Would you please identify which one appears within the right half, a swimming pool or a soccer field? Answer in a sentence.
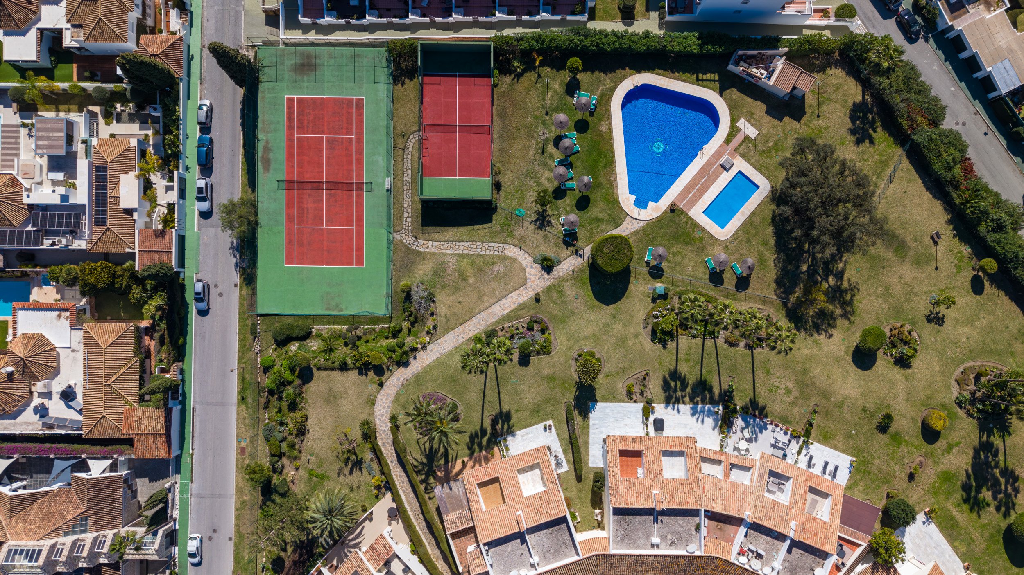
It is a swimming pool that can be seen within the right half.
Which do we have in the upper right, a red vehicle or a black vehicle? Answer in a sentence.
Looking in the upper right, you will find a black vehicle.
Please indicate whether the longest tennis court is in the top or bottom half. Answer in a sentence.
The top half of the photo is where the longest tennis court is.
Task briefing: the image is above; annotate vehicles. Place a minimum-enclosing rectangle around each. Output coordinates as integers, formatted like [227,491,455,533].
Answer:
[196,136,214,167]
[196,100,213,128]
[187,534,204,563]
[195,179,213,212]
[896,8,922,36]
[193,281,211,310]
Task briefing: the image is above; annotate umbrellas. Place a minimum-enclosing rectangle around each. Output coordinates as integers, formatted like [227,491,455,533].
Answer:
[574,97,591,114]
[551,166,568,183]
[712,254,729,270]
[650,246,667,263]
[575,174,592,191]
[558,139,574,155]
[740,258,757,275]
[552,114,569,130]
[561,212,578,229]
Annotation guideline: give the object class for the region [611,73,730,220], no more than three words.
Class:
swimming pool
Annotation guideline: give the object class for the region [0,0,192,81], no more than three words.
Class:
house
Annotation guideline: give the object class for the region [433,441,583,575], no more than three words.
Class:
house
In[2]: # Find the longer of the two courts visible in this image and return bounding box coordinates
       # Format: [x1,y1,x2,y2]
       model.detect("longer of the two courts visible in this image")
[257,46,392,315]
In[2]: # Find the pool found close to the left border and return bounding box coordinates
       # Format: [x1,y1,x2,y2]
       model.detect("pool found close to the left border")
[0,280,33,316]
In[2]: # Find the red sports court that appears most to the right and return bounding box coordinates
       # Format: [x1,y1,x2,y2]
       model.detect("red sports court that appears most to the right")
[418,38,493,201]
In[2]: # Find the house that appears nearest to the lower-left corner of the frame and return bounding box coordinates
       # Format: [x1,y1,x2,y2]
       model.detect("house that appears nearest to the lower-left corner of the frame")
[0,466,177,575]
